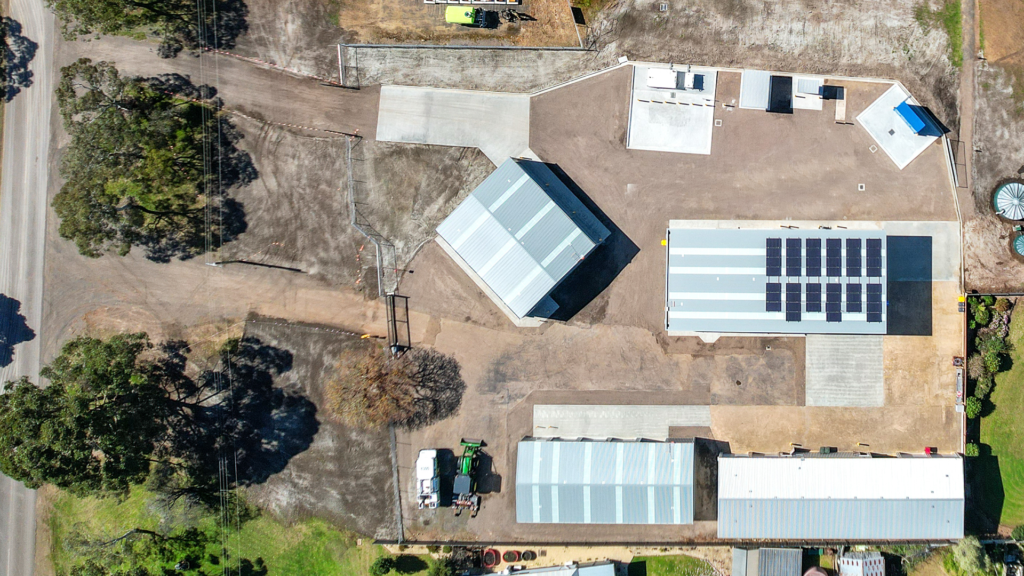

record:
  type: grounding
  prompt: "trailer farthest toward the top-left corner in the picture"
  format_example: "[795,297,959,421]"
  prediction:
[446,7,490,29]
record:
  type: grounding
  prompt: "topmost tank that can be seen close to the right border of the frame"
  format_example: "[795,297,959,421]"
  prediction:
[991,181,1024,221]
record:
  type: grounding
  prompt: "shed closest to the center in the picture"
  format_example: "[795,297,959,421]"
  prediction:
[436,157,598,320]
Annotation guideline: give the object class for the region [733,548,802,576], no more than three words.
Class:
shed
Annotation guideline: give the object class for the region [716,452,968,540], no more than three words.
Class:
shed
